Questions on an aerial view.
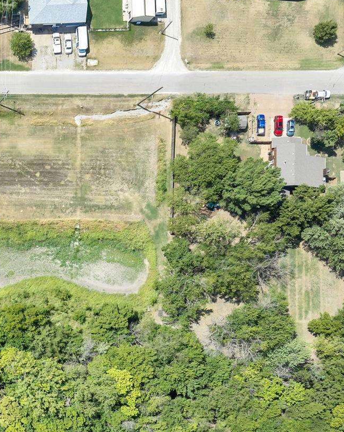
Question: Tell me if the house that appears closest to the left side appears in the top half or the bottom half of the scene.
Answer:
top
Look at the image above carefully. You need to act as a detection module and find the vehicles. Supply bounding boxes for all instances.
[303,89,330,100]
[254,114,267,137]
[62,34,73,55]
[284,118,295,136]
[272,115,285,137]
[52,33,62,56]
[76,23,90,57]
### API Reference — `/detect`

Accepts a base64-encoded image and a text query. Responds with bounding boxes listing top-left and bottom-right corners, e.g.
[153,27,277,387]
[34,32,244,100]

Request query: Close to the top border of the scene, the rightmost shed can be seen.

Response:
[125,0,155,24]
